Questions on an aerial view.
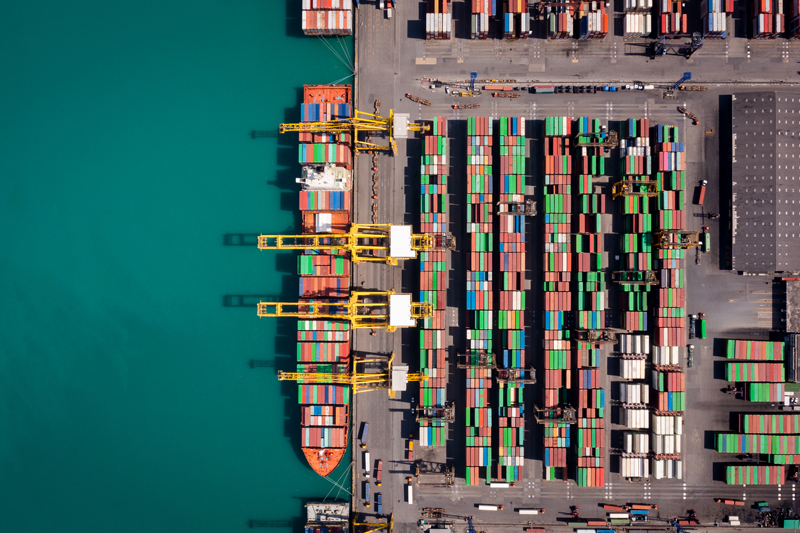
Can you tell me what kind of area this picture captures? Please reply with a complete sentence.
This looks like a port.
